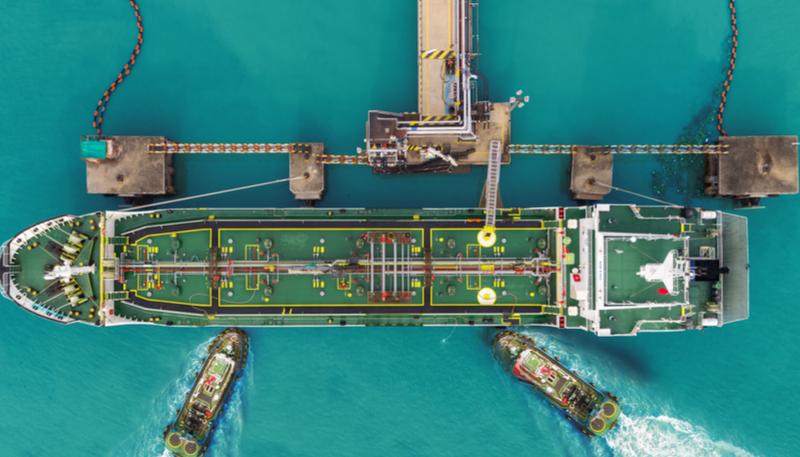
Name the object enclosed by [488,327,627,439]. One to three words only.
boat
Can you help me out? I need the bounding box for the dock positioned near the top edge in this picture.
[418,0,480,118]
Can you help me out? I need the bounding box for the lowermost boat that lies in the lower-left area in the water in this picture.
[158,327,250,457]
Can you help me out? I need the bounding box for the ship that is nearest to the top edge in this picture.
[0,205,753,336]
